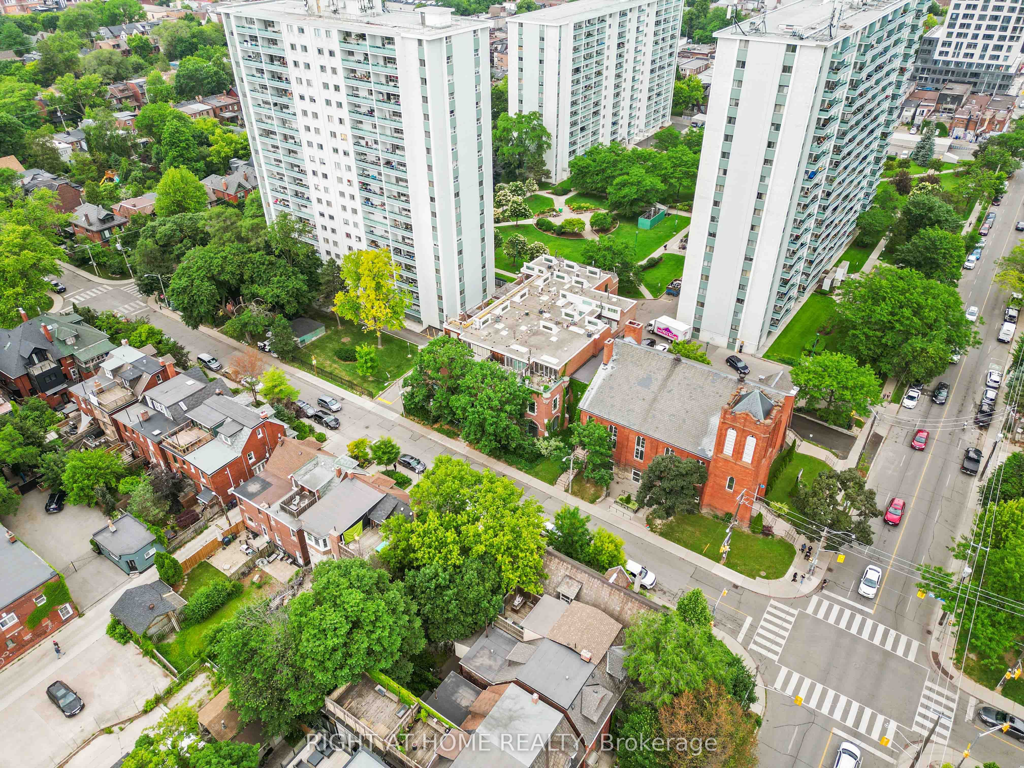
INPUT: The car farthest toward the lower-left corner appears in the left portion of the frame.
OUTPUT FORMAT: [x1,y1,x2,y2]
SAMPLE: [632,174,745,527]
[45,679,86,720]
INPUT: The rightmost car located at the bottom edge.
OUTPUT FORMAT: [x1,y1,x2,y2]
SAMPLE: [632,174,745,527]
[973,701,1024,740]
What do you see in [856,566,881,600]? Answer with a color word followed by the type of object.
white car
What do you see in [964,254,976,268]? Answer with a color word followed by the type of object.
white vehicle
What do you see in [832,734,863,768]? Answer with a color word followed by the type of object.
white car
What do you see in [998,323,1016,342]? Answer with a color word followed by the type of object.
white vehicle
